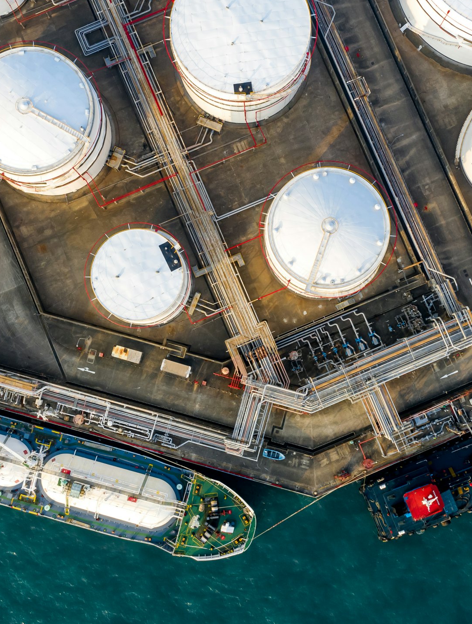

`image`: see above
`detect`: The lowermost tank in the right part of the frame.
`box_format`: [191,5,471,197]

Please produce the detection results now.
[259,161,397,301]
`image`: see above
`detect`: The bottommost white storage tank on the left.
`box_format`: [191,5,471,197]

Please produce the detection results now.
[84,221,194,328]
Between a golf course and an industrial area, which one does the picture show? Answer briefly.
industrial area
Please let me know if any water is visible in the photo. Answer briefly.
Yes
